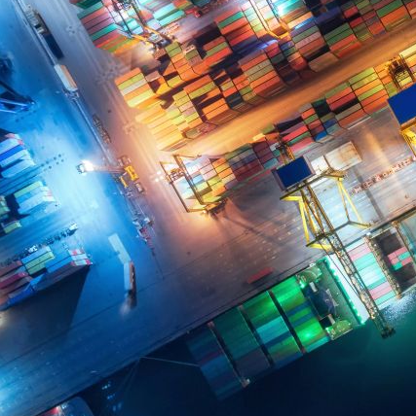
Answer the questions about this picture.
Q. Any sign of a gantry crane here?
Yes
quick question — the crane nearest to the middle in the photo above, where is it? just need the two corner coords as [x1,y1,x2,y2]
[156,150,226,215]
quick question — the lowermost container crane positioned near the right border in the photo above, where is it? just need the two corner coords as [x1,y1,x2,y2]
[267,136,399,340]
